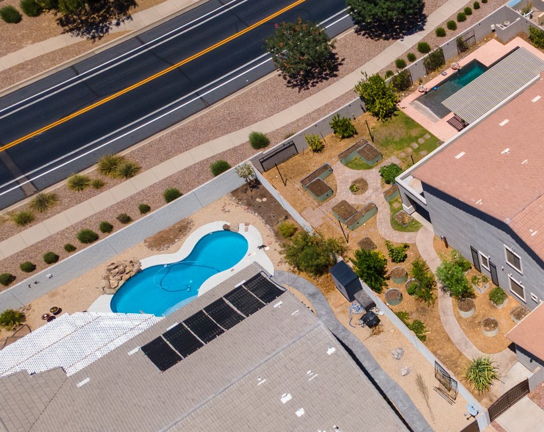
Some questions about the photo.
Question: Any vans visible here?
No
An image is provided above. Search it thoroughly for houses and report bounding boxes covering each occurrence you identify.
[394,74,544,383]
[0,258,413,432]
